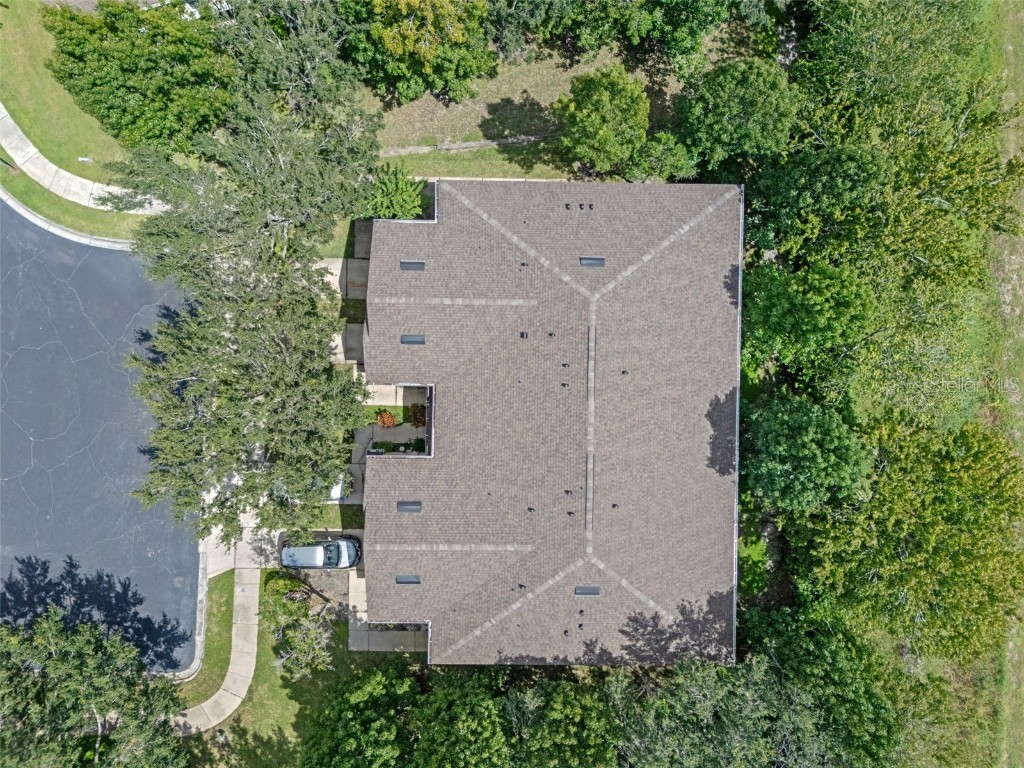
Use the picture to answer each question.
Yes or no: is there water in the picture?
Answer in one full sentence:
No, there's no water in this view.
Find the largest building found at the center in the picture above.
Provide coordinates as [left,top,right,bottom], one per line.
[361,180,745,666]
